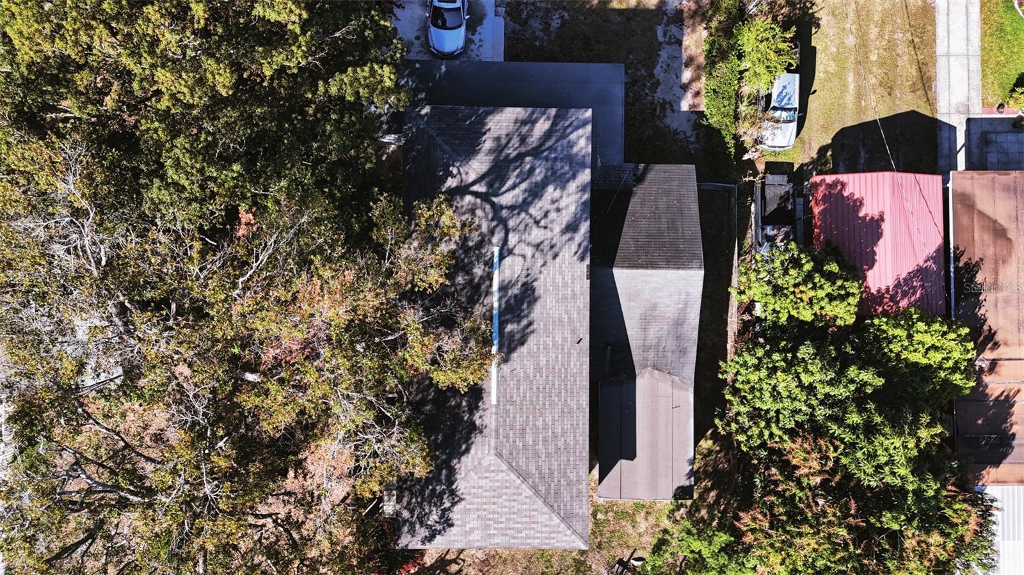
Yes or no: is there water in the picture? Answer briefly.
No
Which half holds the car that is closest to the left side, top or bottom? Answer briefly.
top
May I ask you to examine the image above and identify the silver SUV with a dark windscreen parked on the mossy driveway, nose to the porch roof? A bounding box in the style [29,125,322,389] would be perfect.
[421,0,473,59]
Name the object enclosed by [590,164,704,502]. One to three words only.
house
